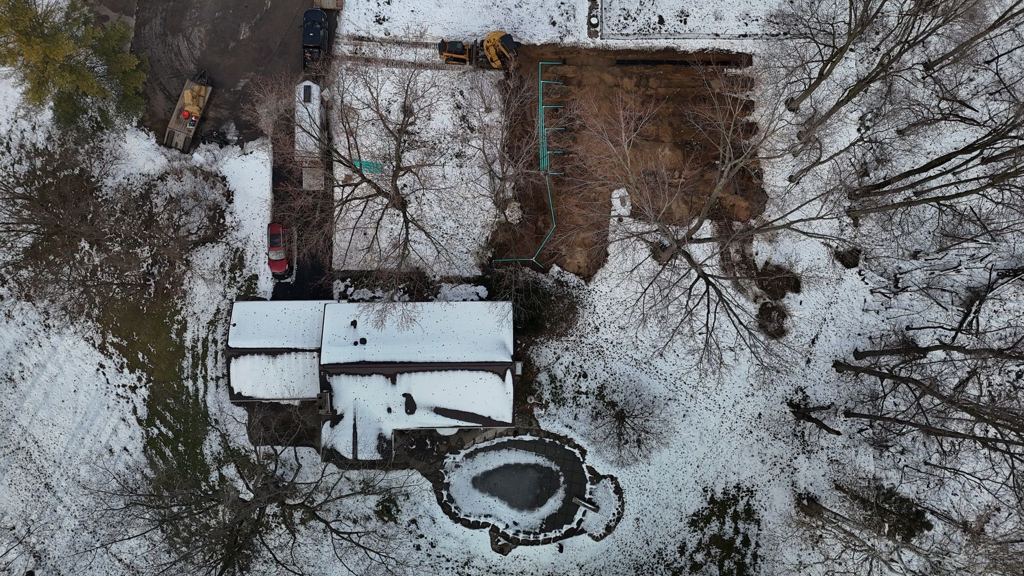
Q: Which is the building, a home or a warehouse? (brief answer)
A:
home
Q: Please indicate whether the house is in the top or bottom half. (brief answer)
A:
bottom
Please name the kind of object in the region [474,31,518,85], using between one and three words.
work vehicle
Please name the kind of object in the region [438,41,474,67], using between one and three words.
work vehicle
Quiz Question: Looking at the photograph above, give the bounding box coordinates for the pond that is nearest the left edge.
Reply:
[442,435,590,538]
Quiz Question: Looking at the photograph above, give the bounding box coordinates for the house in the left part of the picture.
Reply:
[225,299,513,461]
